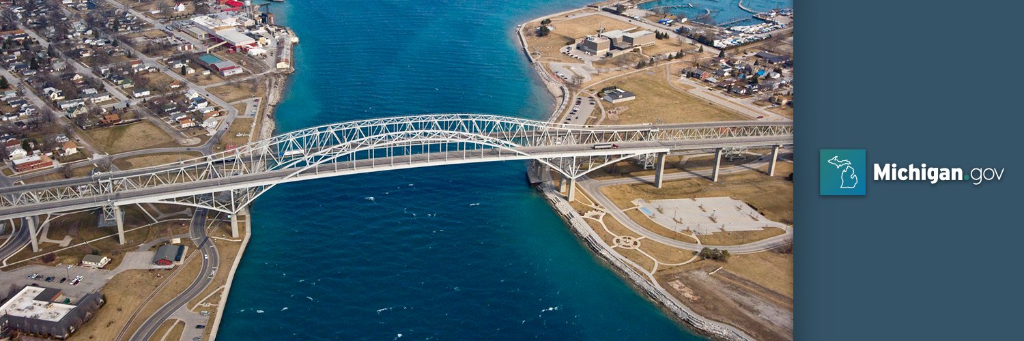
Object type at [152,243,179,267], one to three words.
building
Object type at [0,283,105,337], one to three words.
building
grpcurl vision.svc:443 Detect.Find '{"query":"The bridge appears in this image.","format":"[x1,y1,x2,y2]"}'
[0,123,1024,254]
